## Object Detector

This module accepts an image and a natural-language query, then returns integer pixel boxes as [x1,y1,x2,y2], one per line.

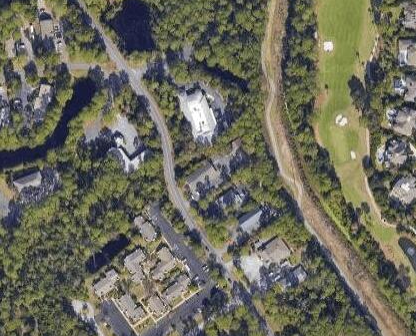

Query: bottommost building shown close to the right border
[390,175,416,206]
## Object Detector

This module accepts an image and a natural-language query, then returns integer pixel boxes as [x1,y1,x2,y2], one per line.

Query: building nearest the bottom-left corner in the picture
[92,269,121,298]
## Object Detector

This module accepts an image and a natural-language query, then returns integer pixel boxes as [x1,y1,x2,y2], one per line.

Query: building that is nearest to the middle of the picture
[185,159,223,194]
